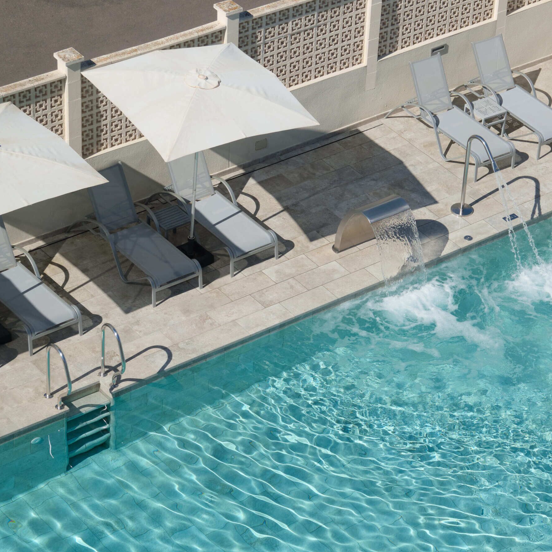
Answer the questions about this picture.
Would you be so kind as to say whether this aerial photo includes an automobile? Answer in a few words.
No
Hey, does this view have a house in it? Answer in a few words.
No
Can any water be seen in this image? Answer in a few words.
Yes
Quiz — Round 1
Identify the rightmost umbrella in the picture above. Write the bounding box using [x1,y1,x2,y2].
[82,42,320,261]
